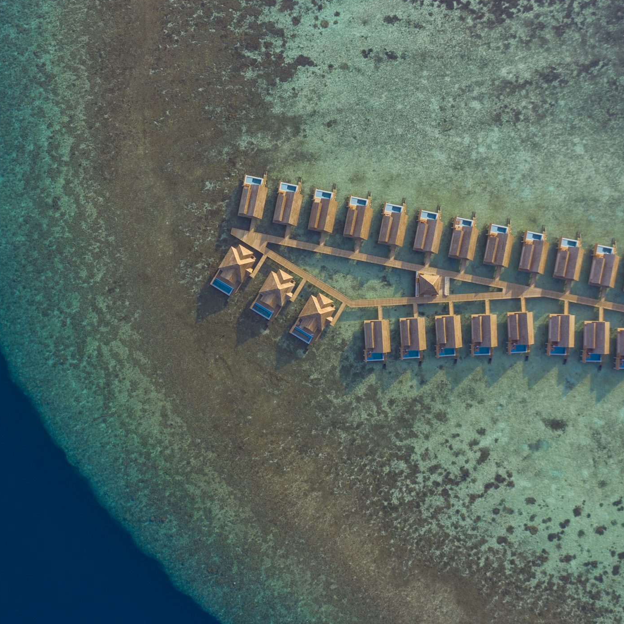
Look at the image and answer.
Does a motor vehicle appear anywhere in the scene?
No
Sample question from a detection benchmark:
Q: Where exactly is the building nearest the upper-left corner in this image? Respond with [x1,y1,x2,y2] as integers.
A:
[238,172,268,219]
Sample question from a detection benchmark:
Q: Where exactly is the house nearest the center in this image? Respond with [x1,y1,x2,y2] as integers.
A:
[289,293,337,350]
